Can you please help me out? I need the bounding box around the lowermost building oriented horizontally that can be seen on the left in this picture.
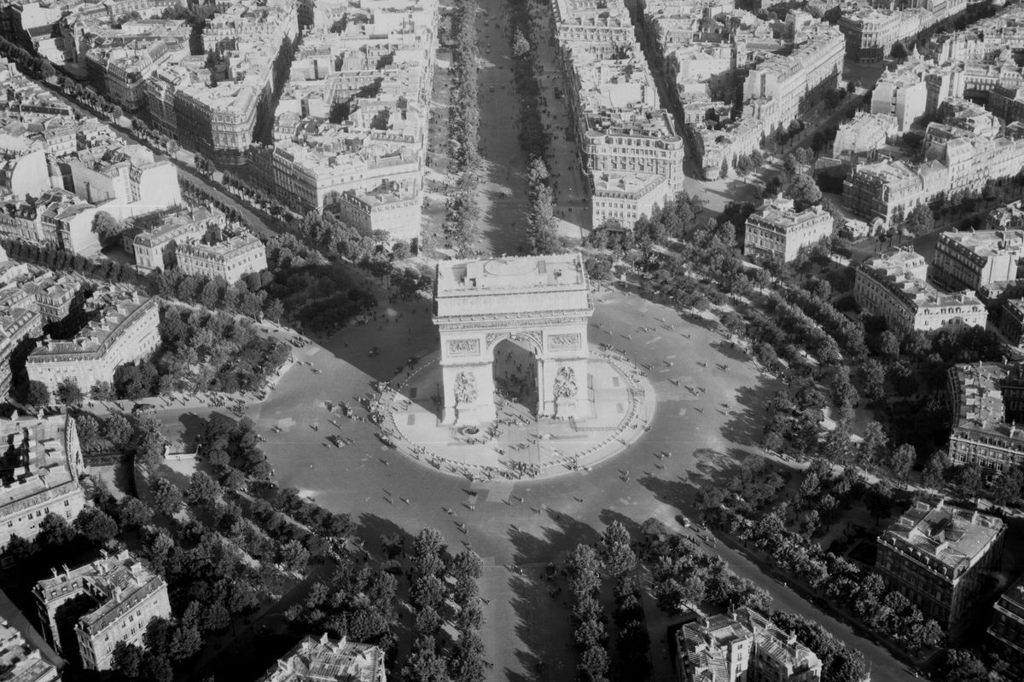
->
[265,630,390,682]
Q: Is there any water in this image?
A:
No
